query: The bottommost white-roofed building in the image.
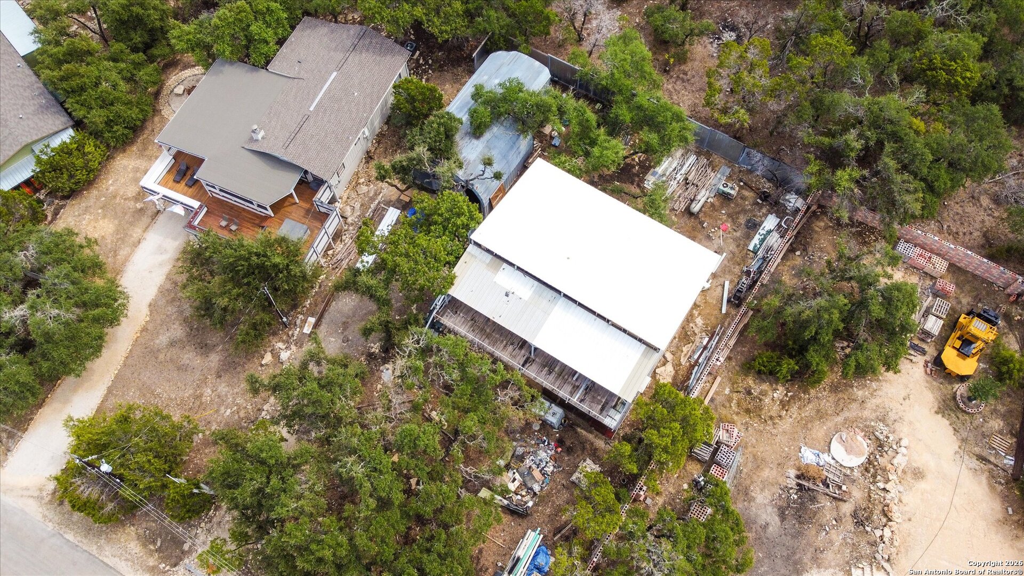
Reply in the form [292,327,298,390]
[431,158,726,438]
